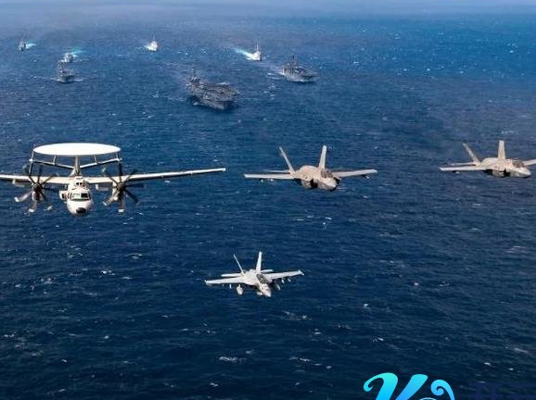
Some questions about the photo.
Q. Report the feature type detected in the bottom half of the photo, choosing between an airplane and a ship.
airplane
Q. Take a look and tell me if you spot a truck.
No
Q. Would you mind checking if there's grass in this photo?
No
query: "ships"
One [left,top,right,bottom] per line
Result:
[64,47,73,62]
[185,69,237,111]
[278,55,321,82]
[57,55,73,82]
[245,48,261,60]
[146,38,156,49]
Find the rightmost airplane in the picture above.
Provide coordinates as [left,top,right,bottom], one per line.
[434,140,536,183]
